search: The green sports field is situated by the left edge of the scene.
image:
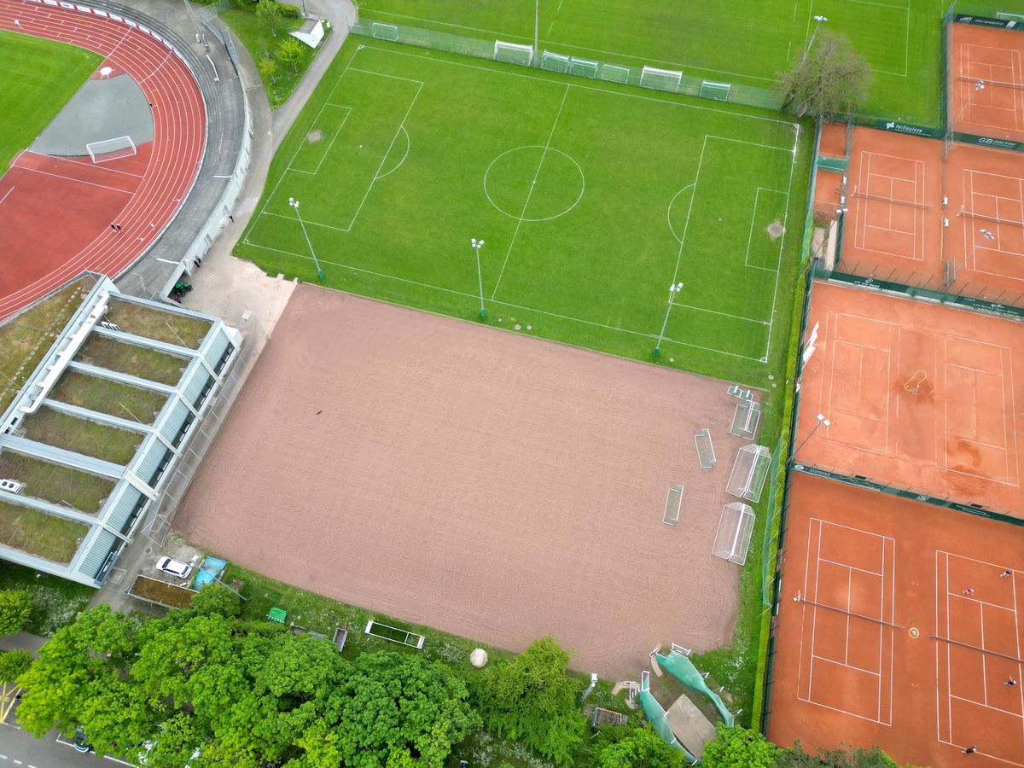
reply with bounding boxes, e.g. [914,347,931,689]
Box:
[0,31,105,180]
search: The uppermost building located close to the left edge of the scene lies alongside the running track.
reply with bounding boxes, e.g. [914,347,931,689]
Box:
[0,270,242,593]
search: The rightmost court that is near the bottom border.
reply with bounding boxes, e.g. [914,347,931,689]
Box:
[914,500,1024,768]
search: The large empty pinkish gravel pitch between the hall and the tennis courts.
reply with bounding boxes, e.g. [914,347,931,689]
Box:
[174,284,765,677]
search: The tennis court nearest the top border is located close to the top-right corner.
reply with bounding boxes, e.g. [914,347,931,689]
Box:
[954,23,1024,141]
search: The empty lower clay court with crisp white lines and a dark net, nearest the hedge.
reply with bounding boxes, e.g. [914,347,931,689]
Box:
[764,470,917,768]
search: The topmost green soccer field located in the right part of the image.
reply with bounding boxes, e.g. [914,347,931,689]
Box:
[355,0,952,138]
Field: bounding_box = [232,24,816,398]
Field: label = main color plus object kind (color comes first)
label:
green soccer field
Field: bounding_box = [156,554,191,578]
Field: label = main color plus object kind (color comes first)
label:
white car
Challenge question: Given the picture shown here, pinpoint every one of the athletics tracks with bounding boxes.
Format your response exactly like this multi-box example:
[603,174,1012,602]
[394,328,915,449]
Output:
[0,9,207,323]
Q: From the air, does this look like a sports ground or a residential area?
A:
sports ground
